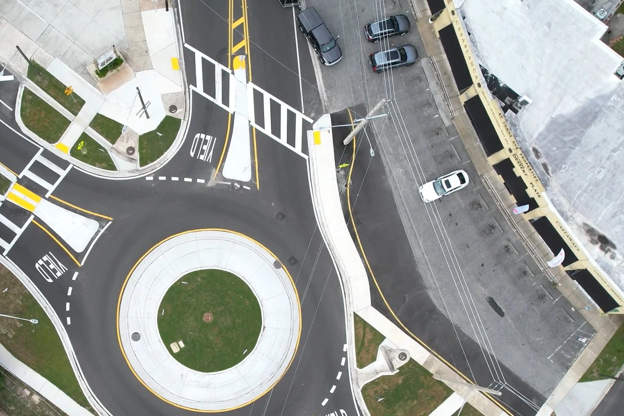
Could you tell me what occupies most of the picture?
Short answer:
paved ground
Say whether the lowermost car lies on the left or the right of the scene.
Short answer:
right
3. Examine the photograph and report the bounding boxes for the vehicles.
[417,170,472,201]
[368,45,419,74]
[295,5,342,69]
[279,0,301,10]
[363,14,412,44]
